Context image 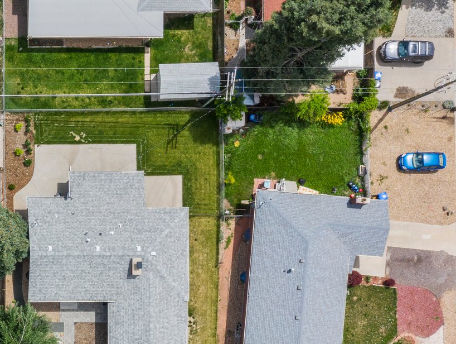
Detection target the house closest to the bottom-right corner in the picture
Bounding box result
[239,189,391,344]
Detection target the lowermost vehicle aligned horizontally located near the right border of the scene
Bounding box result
[395,149,446,173]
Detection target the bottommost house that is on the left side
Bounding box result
[26,170,190,344]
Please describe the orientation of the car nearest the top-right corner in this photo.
from left to right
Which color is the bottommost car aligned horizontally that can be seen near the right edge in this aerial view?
blue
